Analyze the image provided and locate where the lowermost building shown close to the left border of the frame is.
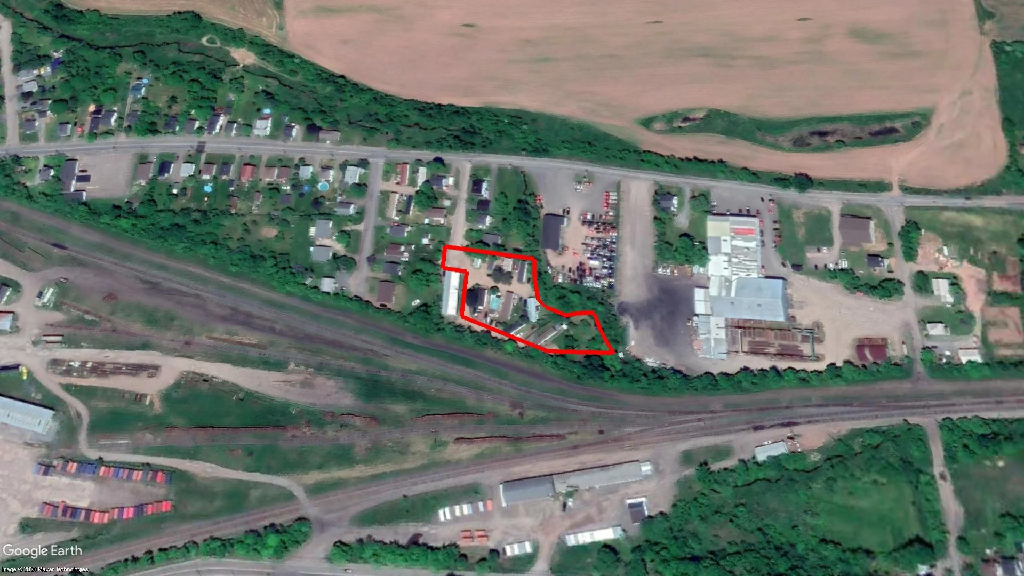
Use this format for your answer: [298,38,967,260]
[0,394,58,433]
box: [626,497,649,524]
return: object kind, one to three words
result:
shed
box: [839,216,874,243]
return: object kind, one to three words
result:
building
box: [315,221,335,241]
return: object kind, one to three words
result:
house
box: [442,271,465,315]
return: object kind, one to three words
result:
barn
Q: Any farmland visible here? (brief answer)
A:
Yes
